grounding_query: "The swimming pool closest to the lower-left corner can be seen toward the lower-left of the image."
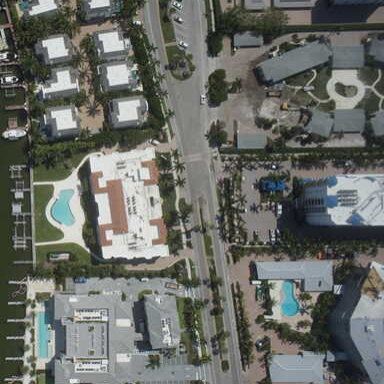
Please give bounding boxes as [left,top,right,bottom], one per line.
[37,306,55,360]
